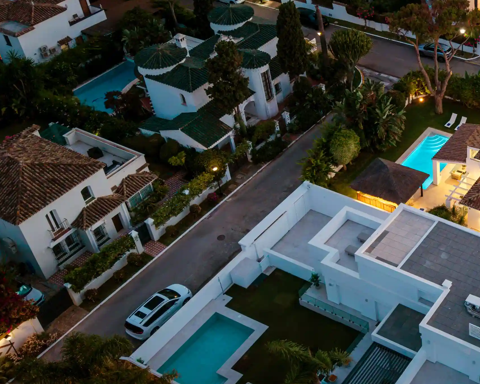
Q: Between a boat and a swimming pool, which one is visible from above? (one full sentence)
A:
The one in the frame is a swimming pool.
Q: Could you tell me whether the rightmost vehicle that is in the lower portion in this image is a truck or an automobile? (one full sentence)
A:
The rightmost vehicle that is in the lower portion can be classified as an automobile.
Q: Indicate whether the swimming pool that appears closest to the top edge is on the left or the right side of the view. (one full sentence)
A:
The swimming pool that appears closest to the top edge is on the left side of the image.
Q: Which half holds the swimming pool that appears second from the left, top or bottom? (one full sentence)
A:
The bottom half of the photo is where the swimming pool that appears second from the left is.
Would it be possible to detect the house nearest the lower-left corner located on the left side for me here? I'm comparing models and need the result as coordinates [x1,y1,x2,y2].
[0,126,161,276]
